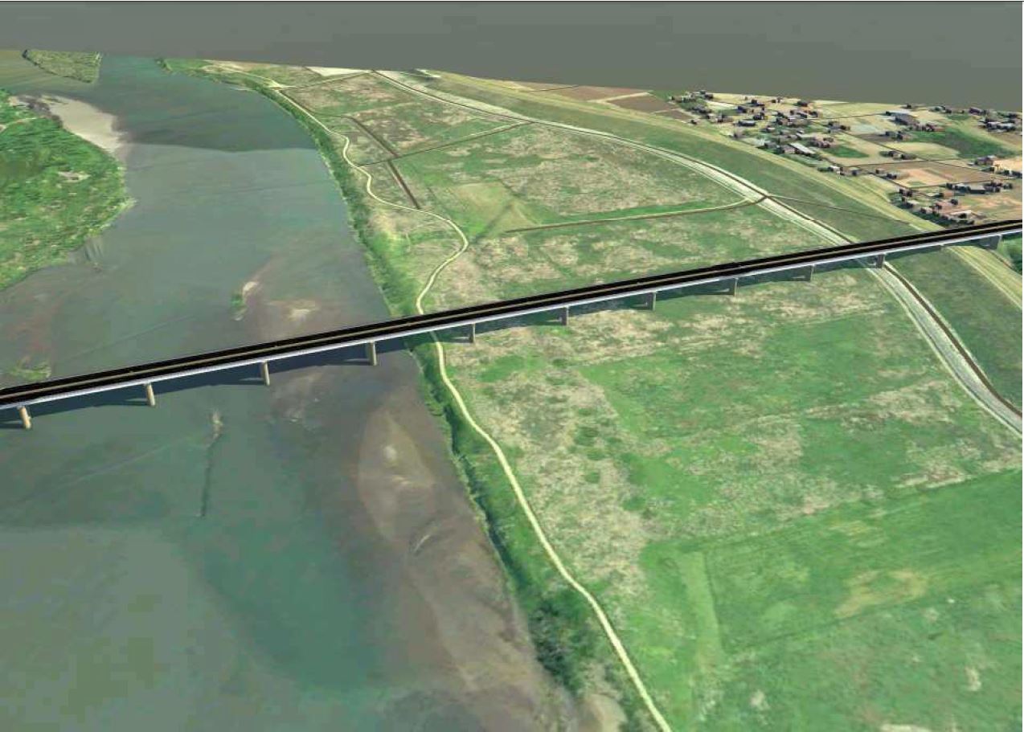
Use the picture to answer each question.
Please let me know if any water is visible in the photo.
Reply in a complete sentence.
Yes, the picture does contain water.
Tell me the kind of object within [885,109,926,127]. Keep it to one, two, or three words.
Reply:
barn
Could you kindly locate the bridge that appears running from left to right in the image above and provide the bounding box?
[0,219,1024,429]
